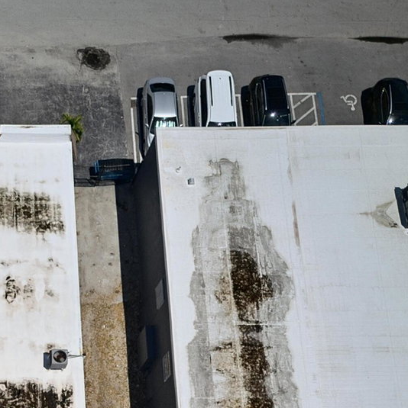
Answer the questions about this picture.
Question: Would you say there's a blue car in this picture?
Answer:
No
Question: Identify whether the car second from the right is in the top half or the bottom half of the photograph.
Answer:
top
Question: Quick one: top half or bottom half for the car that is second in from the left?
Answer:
top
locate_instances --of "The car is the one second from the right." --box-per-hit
[242,79,291,125]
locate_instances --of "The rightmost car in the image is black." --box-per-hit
[363,81,408,125]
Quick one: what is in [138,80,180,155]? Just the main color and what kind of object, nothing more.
gray car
